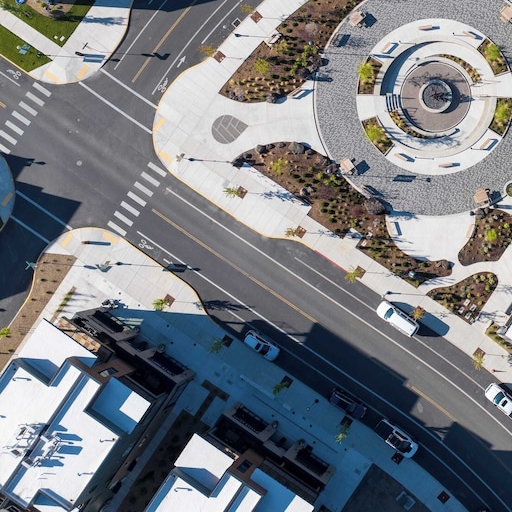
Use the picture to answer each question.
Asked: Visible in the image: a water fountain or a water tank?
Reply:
water fountain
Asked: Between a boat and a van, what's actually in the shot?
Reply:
van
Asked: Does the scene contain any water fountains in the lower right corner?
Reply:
No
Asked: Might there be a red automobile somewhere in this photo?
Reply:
No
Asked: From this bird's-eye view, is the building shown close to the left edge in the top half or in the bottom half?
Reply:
bottom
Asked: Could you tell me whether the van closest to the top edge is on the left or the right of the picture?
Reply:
right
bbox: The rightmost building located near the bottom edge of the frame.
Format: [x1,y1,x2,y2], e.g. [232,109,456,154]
[141,401,335,512]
